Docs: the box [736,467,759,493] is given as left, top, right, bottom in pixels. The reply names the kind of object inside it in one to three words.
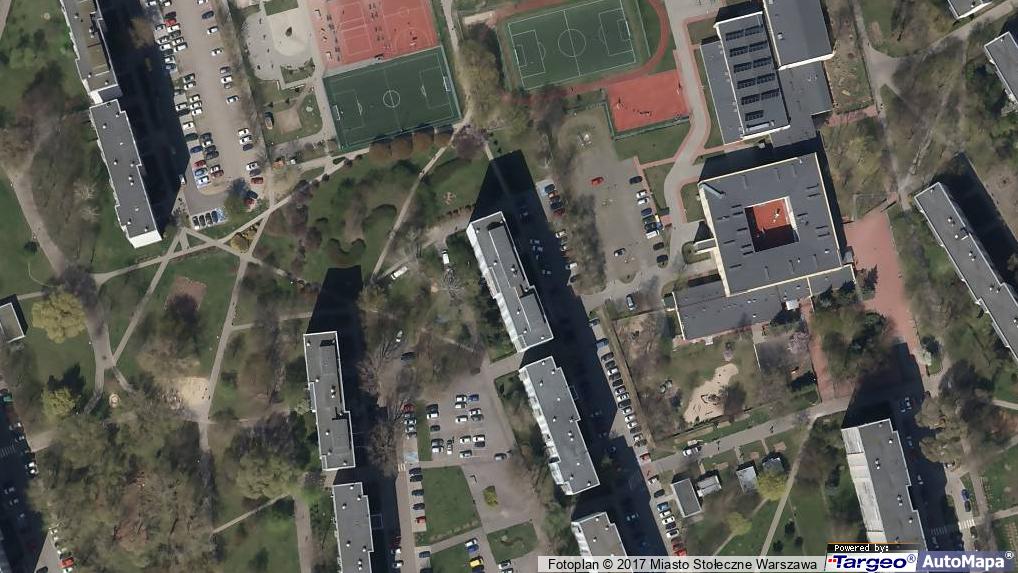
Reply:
shed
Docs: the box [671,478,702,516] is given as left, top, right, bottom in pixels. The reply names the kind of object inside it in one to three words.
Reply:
shed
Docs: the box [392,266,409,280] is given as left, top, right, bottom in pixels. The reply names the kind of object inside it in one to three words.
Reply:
vehicle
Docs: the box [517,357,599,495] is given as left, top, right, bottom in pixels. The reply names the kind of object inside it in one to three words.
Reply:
building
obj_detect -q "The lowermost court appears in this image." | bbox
[606,70,689,130]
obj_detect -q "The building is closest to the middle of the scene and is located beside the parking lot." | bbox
[462,212,553,353]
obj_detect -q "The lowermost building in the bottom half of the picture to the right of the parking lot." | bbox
[569,512,633,573]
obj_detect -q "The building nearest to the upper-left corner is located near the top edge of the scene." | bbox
[60,0,124,103]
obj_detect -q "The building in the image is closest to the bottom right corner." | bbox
[839,419,934,573]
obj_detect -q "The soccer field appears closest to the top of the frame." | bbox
[503,0,642,96]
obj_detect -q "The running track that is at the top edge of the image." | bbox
[477,0,669,101]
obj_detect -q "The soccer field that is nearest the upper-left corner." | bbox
[323,47,460,149]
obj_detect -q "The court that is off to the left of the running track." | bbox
[315,0,440,71]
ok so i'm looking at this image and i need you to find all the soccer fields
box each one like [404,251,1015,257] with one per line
[323,47,460,149]
[503,0,642,96]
